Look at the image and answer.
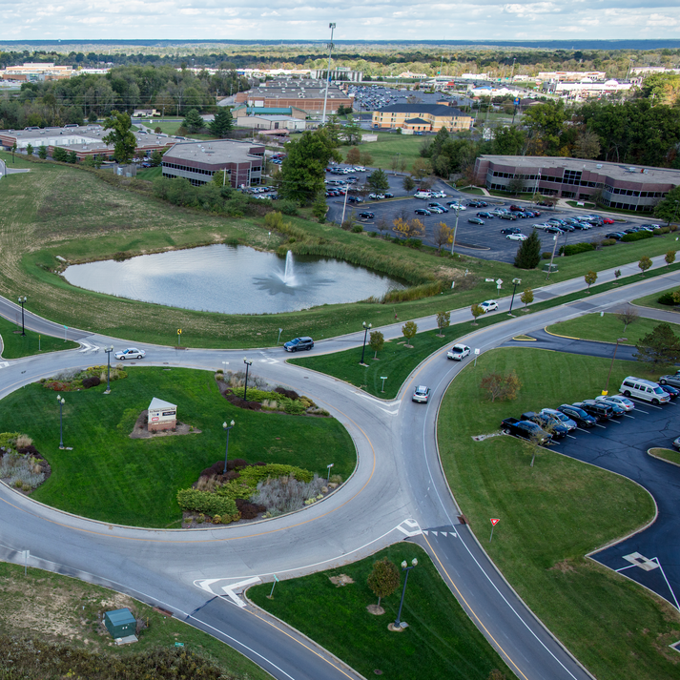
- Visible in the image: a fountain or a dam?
fountain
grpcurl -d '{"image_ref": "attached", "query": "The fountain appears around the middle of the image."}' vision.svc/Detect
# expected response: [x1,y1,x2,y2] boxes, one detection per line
[266,246,315,291]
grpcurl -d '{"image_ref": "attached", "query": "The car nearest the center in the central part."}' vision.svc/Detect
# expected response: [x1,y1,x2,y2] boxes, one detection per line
[283,333,315,350]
